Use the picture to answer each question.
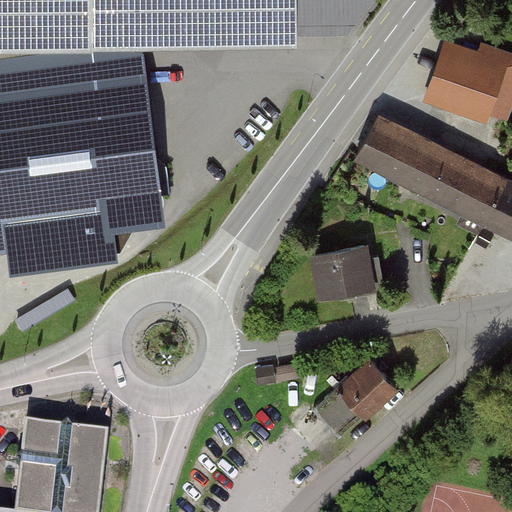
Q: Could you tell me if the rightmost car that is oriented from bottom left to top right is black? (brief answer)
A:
No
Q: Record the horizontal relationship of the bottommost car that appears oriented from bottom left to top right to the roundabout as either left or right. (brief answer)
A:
to its right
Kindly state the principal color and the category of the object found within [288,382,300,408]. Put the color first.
white vehicle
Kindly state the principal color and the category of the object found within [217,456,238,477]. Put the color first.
white vehicle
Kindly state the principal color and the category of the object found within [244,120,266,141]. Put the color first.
white car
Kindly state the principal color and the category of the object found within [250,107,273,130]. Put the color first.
white truck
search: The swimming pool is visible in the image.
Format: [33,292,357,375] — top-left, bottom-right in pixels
[368,172,386,190]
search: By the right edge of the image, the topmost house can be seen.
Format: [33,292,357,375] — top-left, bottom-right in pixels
[423,39,512,124]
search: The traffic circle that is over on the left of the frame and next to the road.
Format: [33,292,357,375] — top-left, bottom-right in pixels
[0,228,258,512]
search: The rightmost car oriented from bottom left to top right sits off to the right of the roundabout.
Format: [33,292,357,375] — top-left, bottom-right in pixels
[384,390,405,409]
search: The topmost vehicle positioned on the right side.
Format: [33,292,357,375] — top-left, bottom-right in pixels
[415,54,436,69]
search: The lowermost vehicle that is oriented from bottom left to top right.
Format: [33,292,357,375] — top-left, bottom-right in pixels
[293,464,314,484]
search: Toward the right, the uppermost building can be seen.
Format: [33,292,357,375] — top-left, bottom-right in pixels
[298,0,370,38]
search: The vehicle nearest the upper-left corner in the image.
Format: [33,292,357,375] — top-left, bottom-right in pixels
[150,70,182,84]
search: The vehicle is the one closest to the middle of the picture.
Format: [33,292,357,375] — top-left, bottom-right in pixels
[206,160,225,179]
